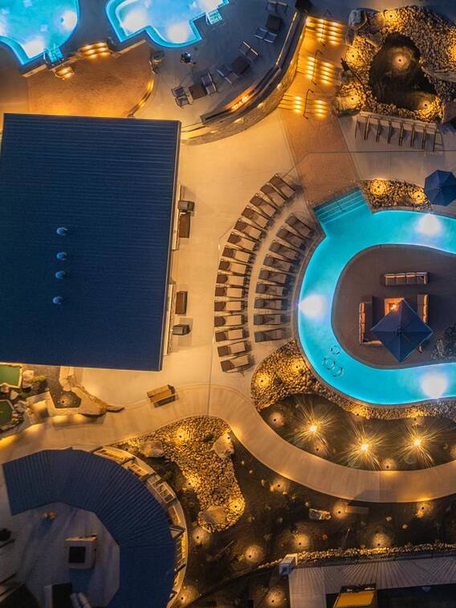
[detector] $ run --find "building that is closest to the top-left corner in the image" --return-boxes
[0,113,187,371]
